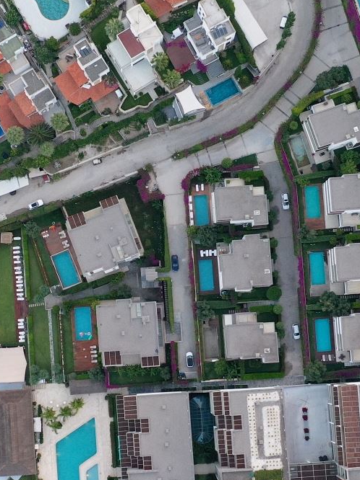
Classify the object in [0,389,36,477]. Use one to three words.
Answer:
building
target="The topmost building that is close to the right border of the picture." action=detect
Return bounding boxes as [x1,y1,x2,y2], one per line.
[301,99,360,155]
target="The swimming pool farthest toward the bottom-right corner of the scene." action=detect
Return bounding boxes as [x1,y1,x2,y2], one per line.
[314,317,333,353]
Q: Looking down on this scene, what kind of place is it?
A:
residential area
